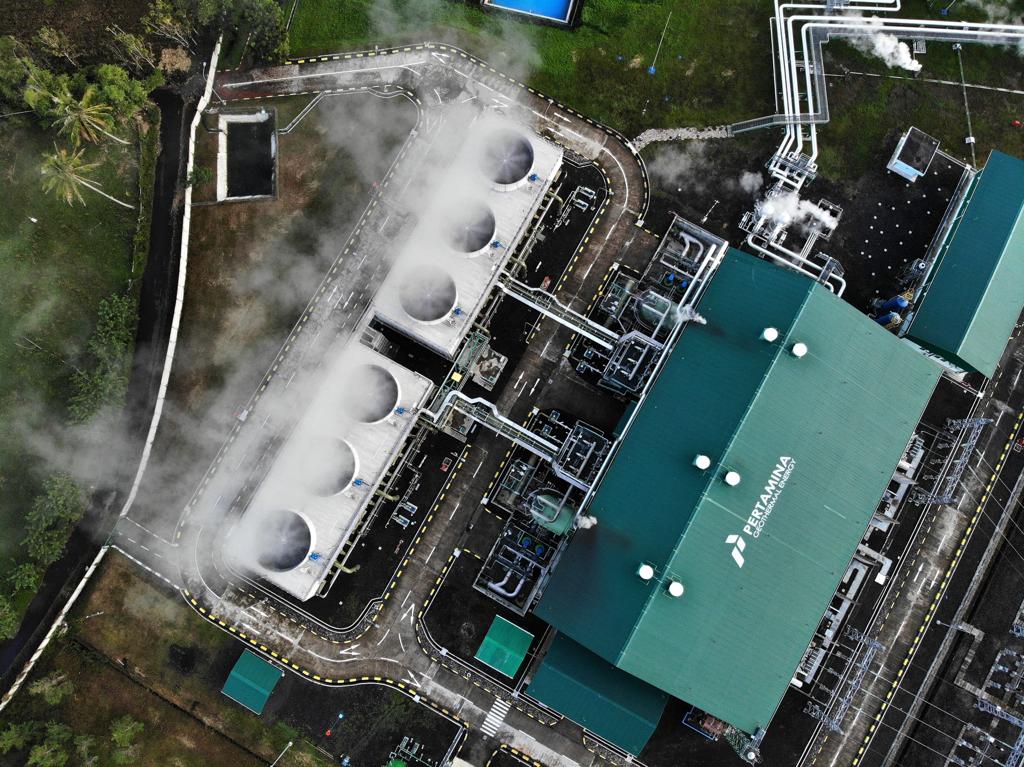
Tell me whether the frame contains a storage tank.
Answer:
Yes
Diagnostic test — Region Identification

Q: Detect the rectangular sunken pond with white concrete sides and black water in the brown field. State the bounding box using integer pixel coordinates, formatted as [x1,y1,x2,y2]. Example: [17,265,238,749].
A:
[206,110,278,201]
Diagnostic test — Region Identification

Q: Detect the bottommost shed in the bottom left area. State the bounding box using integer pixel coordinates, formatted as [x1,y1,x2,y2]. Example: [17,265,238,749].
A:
[221,646,286,714]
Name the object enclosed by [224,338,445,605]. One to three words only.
cooling tower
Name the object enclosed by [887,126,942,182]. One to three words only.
shed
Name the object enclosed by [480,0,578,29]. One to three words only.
pond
